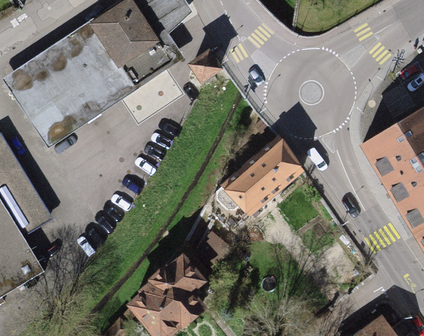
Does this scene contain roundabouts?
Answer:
Yes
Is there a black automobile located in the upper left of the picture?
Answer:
Yes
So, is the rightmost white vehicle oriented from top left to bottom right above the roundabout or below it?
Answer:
below it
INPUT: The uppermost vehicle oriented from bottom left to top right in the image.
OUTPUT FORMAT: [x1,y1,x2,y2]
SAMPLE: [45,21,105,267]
[82,4,104,22]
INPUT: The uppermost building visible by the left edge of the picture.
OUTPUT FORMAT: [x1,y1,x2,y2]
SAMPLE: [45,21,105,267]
[2,18,136,146]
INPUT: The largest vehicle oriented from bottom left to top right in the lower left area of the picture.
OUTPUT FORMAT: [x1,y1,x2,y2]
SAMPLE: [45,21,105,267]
[44,239,66,258]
